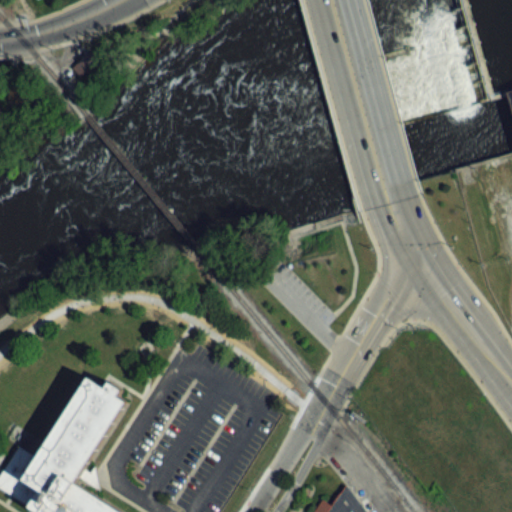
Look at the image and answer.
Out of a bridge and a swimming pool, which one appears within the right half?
bridge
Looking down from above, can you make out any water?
Yes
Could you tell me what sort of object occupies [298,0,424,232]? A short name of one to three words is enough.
bridge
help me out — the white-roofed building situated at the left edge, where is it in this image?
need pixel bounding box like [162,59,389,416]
[0,376,126,512]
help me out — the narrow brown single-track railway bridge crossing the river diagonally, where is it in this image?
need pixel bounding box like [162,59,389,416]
[83,114,203,258]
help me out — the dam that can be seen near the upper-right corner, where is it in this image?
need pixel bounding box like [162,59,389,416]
[452,0,502,104]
